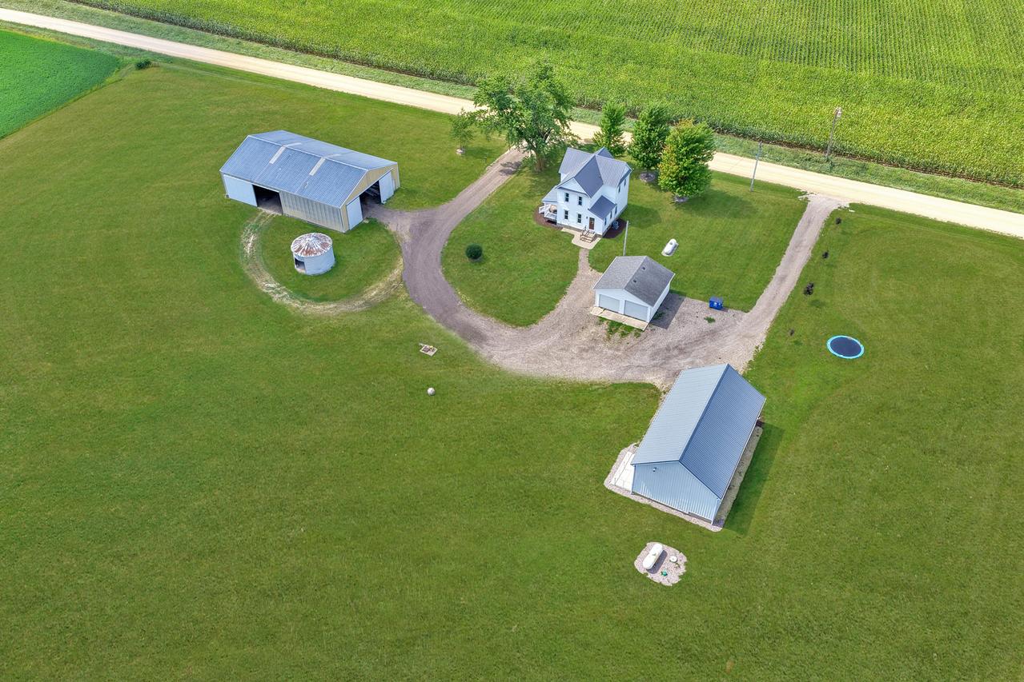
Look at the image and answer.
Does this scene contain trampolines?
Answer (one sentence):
Yes, the image includes a trampoline.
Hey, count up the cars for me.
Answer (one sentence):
No cars are visible.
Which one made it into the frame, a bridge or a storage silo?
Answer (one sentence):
The image shows a storage silo.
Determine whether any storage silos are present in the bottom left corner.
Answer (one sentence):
No, no storage silo is visible in the bottom left corner.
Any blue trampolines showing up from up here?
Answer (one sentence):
Yes, the image includes a blue trampoline.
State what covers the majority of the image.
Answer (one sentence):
For the most part, this view shows grass.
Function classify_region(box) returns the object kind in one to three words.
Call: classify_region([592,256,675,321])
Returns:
building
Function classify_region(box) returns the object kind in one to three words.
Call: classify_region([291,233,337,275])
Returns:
silo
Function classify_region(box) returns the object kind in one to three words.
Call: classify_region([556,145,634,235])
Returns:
house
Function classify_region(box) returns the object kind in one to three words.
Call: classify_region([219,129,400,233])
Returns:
barn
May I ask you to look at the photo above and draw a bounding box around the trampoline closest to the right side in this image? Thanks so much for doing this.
[826,335,866,361]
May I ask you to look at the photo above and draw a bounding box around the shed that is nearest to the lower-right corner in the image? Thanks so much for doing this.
[629,363,767,525]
